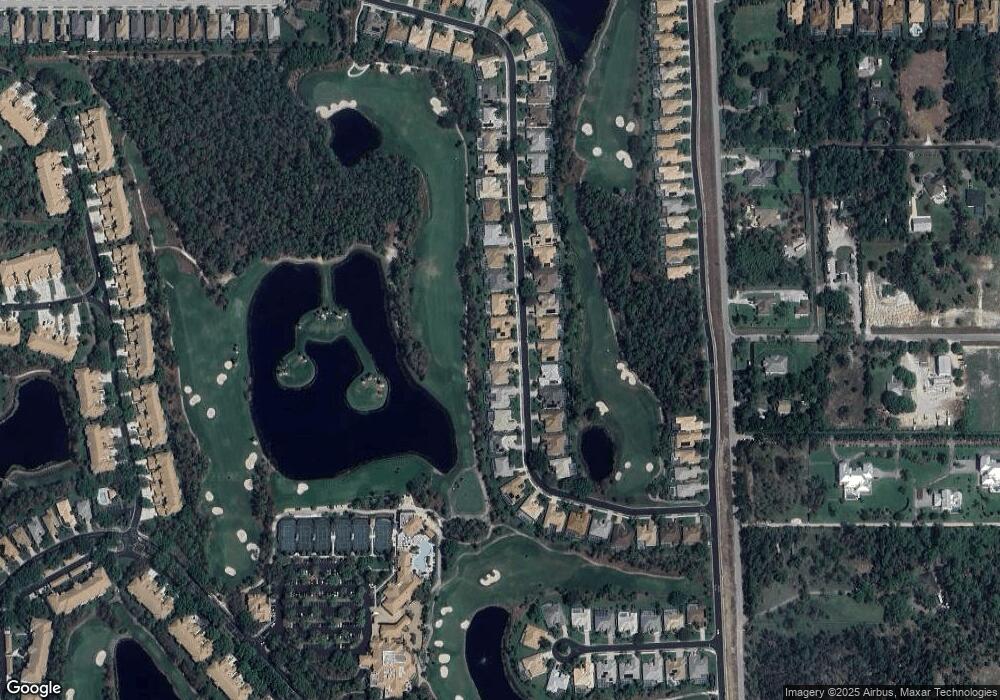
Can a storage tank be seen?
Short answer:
No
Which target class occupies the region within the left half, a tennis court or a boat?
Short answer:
tennis court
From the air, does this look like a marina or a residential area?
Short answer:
residential area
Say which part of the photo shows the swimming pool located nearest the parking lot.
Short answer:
bottom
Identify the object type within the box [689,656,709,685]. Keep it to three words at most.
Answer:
house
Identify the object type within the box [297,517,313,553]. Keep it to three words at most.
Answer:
tennis court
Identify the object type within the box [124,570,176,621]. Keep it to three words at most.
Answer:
building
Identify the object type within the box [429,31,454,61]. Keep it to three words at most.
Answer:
house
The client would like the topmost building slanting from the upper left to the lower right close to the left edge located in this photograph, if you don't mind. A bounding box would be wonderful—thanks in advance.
[0,85,52,147]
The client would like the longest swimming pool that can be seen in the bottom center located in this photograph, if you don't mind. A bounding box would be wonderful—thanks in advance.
[411,535,435,574]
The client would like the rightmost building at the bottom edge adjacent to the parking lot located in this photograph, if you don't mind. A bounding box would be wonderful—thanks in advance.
[357,549,421,698]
